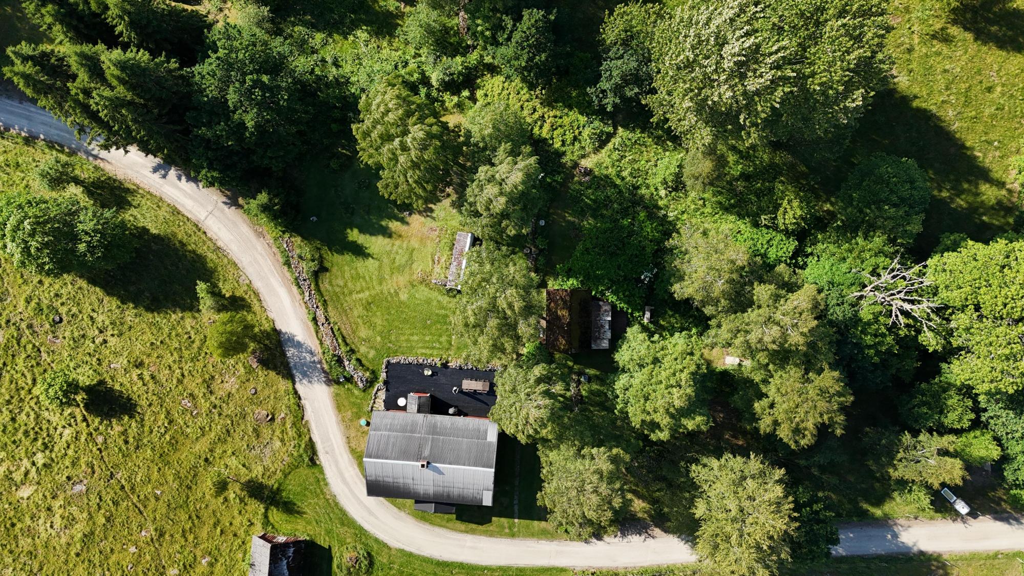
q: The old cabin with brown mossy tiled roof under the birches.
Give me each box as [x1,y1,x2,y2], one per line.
[546,288,612,354]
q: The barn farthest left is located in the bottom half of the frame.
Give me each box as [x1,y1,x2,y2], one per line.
[248,532,304,576]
